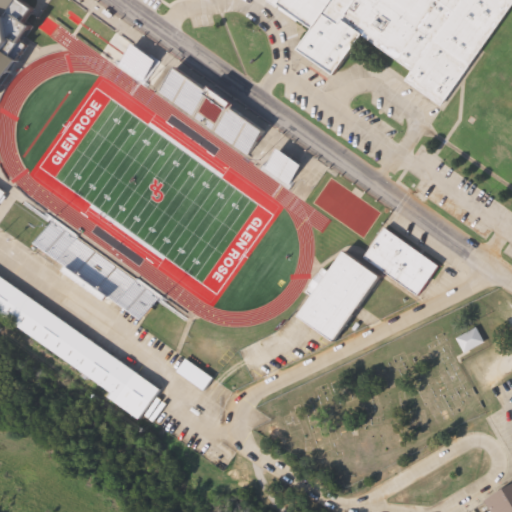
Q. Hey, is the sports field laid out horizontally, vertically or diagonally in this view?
diagonally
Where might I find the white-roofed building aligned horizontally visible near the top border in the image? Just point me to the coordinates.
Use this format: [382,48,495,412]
[274,0,512,106]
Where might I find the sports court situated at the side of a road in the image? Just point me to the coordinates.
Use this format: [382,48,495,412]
[312,177,383,240]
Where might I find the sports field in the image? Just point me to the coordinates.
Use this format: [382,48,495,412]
[15,72,299,310]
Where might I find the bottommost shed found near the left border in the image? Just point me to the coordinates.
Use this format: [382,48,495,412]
[0,277,161,419]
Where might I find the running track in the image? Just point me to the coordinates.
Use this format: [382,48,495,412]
[0,16,331,327]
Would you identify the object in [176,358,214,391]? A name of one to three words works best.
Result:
building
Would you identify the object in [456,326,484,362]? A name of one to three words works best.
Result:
house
